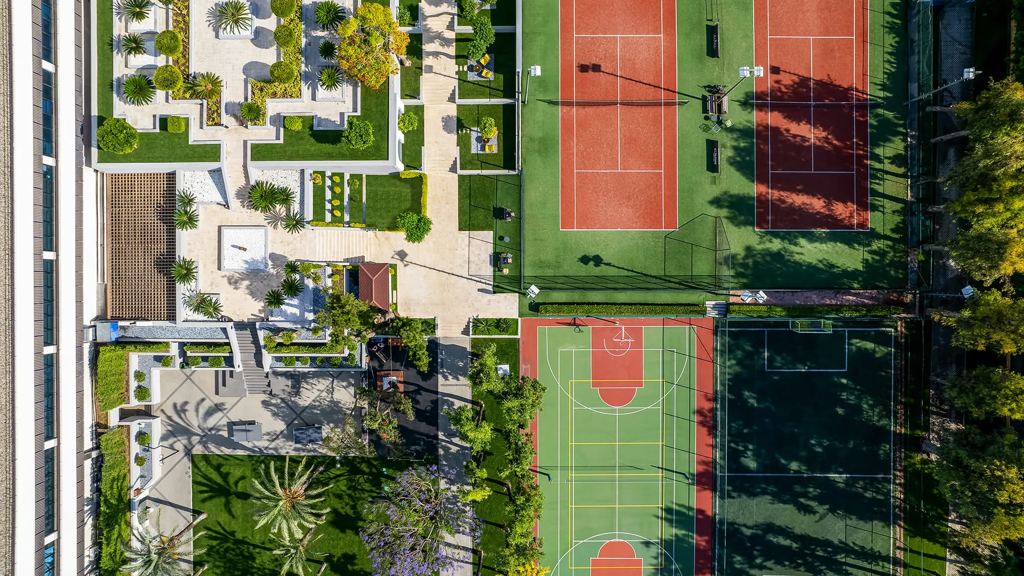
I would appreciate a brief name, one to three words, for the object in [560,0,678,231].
tennis court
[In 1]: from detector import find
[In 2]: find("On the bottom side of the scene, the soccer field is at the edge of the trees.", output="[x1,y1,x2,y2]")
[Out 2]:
[715,318,898,576]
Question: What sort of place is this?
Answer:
sports ground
